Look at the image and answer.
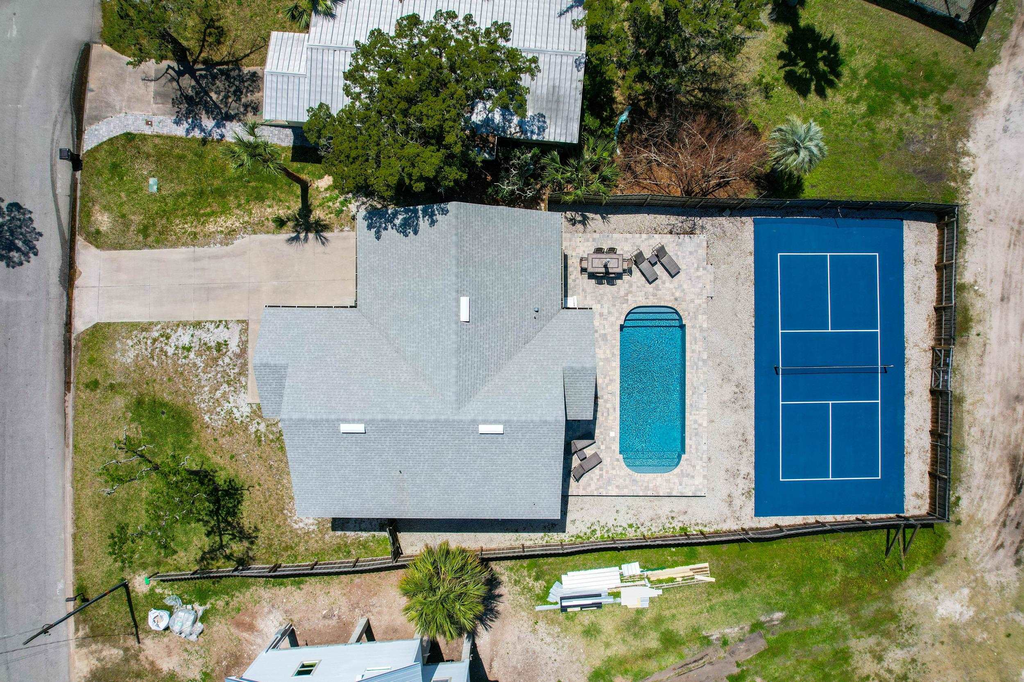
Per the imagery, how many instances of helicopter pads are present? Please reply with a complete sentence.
Not a single helicopter pad can be seen.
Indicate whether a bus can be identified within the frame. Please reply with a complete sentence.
No, I find no bus anywhere in the image.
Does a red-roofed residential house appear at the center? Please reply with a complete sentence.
No, I can find no red-roofed residential house at the center.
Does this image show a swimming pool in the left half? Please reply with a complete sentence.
No, I can find no swimming pool in the left half.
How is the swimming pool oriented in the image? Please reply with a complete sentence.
From this overhead view, the swimming pool appears to run from top to bottom.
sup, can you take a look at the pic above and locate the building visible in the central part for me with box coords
[253,201,595,518]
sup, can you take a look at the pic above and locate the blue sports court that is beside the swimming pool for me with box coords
[753,217,905,517]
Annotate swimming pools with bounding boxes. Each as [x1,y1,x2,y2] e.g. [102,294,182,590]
[614,301,691,478]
